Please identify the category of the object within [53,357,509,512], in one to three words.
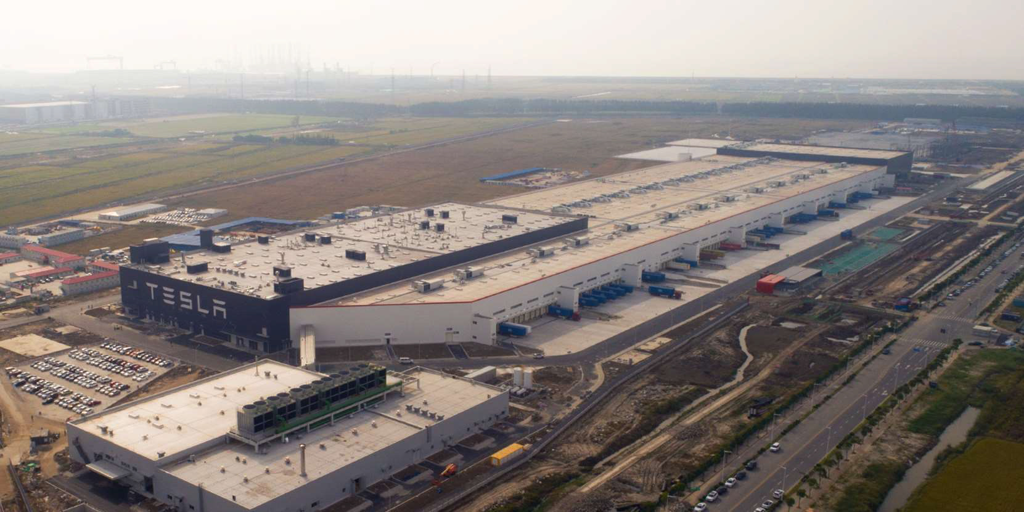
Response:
building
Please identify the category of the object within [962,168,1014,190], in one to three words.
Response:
building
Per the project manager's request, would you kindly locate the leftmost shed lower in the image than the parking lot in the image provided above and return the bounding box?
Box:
[27,424,54,442]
